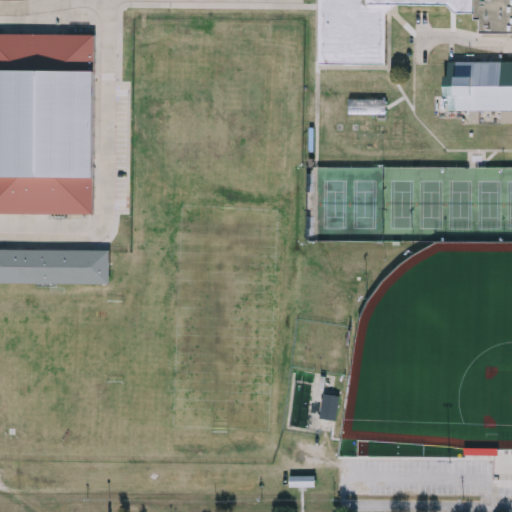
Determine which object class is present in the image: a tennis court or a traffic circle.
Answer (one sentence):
I can see a tennis court in this picture.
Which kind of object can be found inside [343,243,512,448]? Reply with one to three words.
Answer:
baseball field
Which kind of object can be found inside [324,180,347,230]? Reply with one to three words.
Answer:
tennis court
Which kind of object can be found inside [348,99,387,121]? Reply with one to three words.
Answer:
shed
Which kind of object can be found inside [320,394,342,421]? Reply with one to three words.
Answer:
building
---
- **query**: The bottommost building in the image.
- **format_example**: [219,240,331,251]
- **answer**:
[289,476,316,488]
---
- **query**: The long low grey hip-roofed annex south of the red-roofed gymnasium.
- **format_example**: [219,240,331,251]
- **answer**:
[0,250,110,288]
